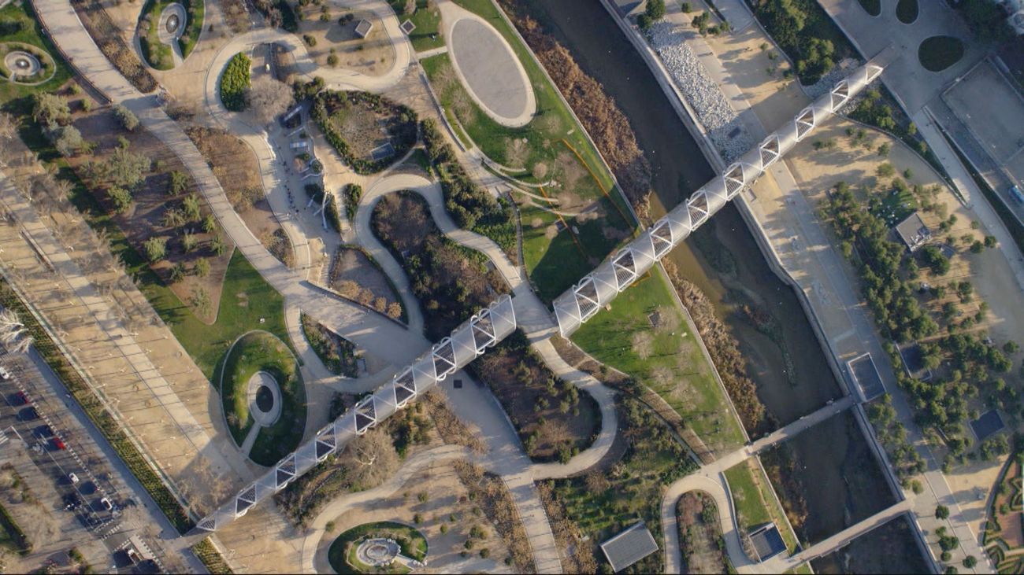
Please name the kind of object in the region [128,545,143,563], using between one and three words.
vehicle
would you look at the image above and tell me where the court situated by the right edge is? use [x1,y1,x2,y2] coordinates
[940,55,1024,187]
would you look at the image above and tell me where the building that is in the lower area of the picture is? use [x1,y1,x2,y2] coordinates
[599,521,659,573]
